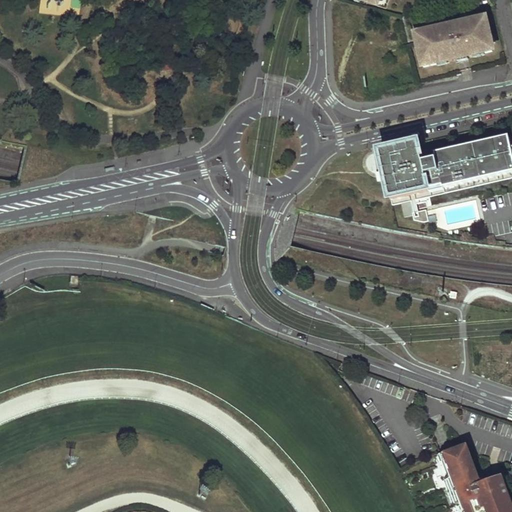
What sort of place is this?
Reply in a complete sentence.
The picture captures a sports ground.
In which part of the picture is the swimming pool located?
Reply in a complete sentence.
The swimming pool is in the right part of the image.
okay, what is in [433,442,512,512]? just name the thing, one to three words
house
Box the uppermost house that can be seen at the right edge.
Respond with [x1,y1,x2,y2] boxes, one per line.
[411,11,494,70]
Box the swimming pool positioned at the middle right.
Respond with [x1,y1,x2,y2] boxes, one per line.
[431,196,484,232]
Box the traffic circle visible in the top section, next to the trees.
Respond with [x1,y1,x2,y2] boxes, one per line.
[220,98,319,197]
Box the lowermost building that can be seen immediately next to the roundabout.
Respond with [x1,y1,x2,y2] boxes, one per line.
[362,133,512,224]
